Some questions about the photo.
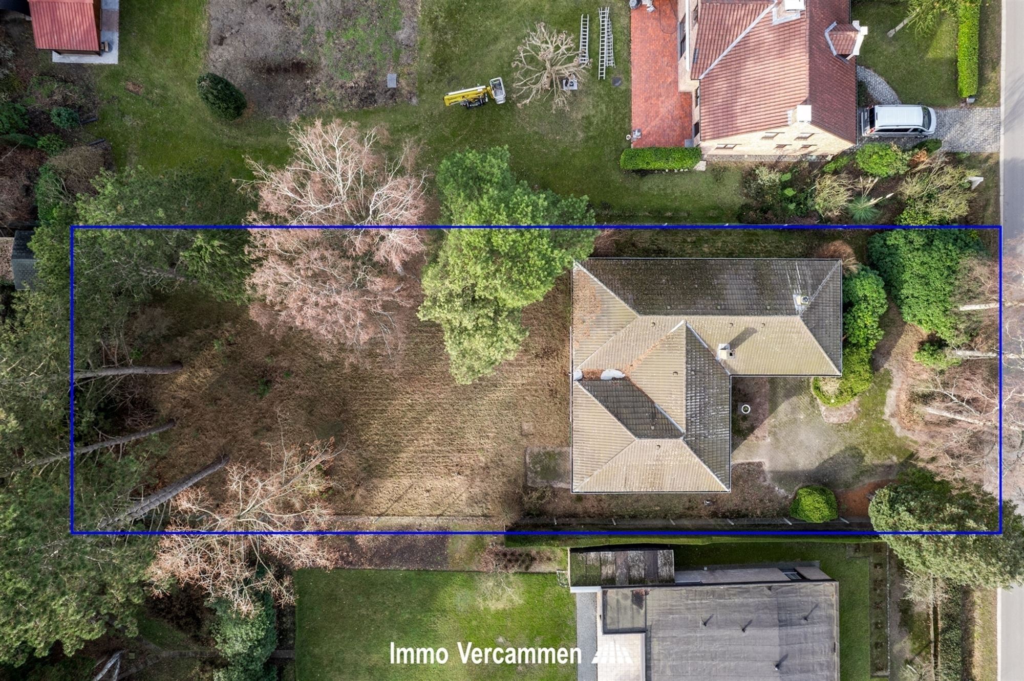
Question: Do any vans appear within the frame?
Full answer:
Yes, the photo shows a van.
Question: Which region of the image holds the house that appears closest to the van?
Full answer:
Look in the top right portion of the view to spot the house that appears closest to the van.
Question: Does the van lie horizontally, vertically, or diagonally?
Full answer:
The van is laid out horizontally.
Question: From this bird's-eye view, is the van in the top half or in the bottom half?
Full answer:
The van sits in the top half of the picture.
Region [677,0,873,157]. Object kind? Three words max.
house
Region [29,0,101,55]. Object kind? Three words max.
shed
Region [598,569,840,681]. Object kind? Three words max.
house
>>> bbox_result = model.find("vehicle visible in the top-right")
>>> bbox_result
[858,99,936,136]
